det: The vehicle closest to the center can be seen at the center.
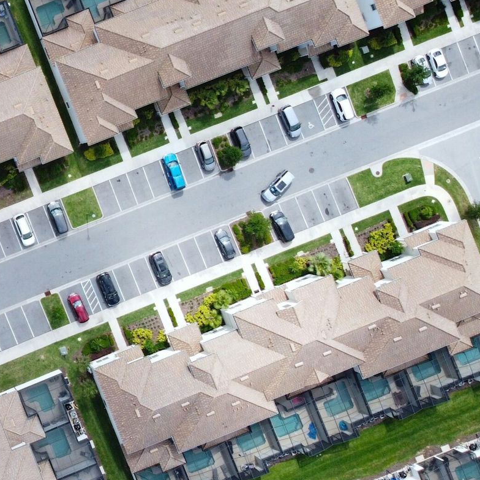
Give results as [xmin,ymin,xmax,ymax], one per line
[214,227,237,261]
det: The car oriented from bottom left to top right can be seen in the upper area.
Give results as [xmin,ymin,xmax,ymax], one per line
[261,170,294,201]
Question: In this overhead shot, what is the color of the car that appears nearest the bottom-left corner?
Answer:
red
